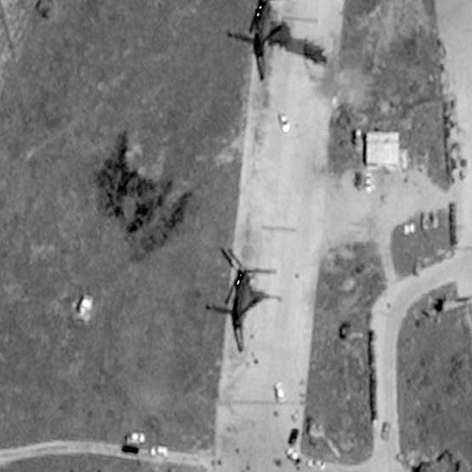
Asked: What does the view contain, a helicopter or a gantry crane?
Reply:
helicopter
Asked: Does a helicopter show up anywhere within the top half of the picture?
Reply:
Yes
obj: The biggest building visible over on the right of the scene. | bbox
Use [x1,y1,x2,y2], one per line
[366,131,400,173]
